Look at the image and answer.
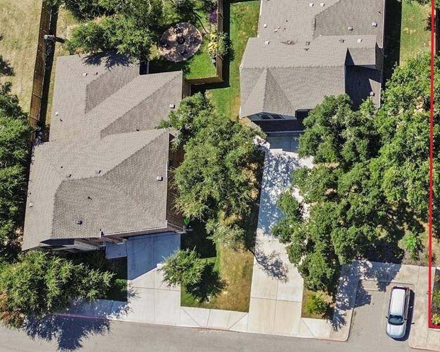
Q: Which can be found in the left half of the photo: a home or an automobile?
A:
home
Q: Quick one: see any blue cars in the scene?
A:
No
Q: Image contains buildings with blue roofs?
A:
No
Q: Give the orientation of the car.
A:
vertically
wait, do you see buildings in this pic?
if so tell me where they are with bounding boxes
[240,0,384,135]
[23,53,189,256]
